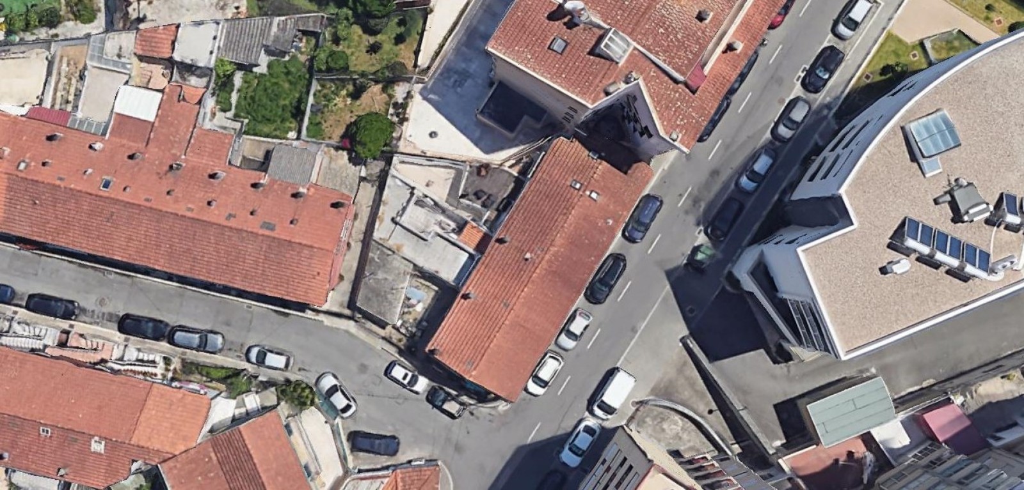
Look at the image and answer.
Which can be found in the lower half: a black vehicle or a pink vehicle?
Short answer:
black vehicle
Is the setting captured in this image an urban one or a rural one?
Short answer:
urban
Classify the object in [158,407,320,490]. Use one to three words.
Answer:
house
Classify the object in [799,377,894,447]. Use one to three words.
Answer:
shed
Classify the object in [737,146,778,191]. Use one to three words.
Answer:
car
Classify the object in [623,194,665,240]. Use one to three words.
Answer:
car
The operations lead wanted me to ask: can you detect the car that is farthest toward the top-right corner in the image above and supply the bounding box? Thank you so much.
[832,0,879,39]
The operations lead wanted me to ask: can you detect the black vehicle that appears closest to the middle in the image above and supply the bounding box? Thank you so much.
[585,255,628,303]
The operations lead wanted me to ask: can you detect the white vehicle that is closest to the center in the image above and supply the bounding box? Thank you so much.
[555,309,593,350]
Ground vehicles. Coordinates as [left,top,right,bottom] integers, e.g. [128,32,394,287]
[21,291,78,323]
[802,44,848,91]
[525,352,565,395]
[346,430,400,461]
[728,56,759,96]
[772,95,814,140]
[383,361,428,396]
[166,324,222,357]
[313,373,358,420]
[623,194,665,240]
[705,196,747,240]
[425,387,466,422]
[698,100,731,142]
[555,309,593,350]
[115,312,169,344]
[245,344,293,373]
[593,367,636,417]
[561,420,601,468]
[737,146,778,191]
[0,281,16,306]
[832,0,879,39]
[772,0,797,28]
[585,255,628,303]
